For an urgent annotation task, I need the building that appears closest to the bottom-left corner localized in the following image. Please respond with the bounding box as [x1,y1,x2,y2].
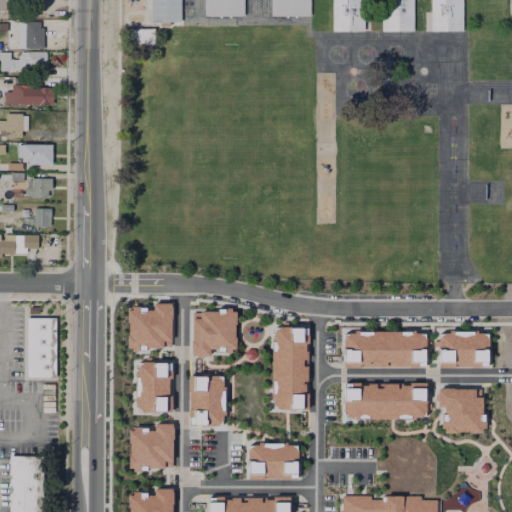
[10,448,44,512]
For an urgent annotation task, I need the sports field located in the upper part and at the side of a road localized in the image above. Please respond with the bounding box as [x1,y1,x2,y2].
[114,0,512,282]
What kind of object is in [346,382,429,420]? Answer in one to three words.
building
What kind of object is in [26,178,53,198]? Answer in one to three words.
house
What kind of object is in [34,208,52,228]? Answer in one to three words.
house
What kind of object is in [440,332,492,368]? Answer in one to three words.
building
